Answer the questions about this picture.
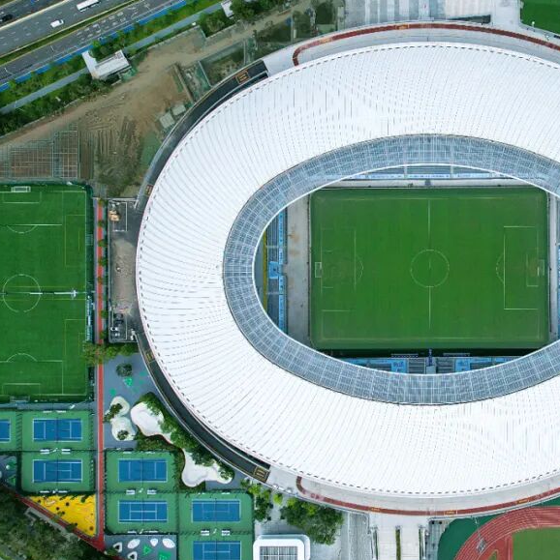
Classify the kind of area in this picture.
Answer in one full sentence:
This image shows a sports ground.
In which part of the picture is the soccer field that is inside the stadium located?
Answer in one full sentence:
The soccer field that is inside the stadium is in the right part of the image.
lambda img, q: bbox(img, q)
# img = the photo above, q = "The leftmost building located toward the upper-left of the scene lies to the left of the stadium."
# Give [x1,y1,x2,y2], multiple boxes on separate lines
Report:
[82,49,133,78]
